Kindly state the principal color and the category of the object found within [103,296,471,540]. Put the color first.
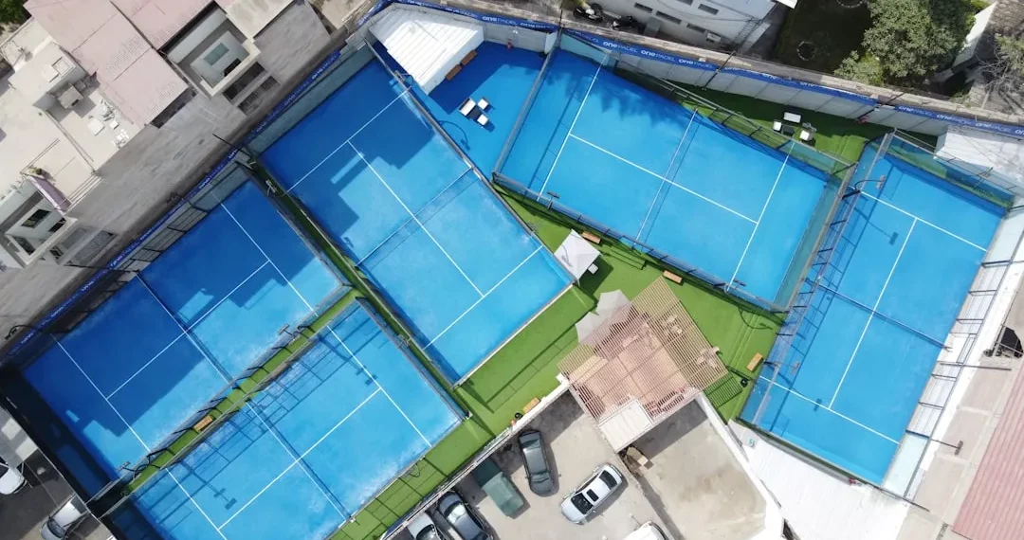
blue sports court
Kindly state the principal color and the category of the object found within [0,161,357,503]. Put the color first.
blue sports court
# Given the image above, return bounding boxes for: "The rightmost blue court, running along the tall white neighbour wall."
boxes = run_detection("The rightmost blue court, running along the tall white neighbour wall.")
[736,130,1024,499]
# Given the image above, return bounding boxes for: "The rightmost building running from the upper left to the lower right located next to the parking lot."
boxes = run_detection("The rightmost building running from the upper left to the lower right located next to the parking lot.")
[733,422,901,540]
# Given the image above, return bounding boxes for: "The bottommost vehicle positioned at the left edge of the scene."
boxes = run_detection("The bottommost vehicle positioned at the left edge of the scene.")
[37,489,93,540]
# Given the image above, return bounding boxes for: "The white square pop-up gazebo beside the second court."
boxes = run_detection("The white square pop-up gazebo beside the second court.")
[549,227,603,281]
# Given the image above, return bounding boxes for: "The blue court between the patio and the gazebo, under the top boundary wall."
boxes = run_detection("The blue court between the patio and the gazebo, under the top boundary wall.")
[491,37,856,315]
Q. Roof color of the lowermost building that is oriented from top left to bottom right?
white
